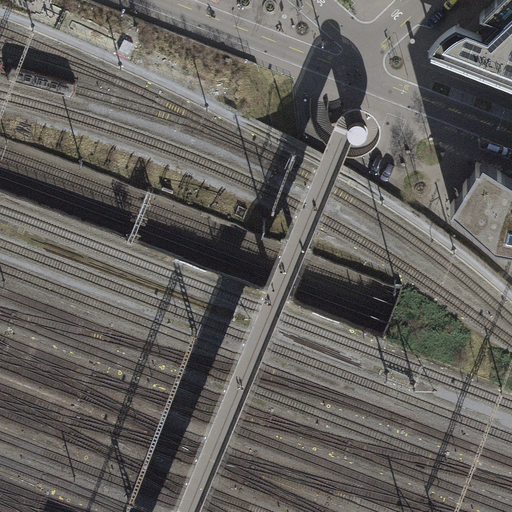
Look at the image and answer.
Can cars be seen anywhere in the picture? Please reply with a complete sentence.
Yes, the picture does show a car.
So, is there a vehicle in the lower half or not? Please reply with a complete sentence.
No, the scene shows no vehicle in the lower half.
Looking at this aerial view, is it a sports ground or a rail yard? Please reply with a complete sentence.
What you see here is a rail yard.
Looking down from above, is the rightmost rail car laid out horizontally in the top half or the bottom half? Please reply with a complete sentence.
It is in the top half that the rightmost rail car laid out horizontally appears.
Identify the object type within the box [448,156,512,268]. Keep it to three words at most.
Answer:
building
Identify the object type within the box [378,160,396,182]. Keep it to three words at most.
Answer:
car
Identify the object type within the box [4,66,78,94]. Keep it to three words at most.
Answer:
rail car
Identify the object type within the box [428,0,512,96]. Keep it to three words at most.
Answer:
building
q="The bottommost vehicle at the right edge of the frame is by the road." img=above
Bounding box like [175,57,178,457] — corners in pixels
[486,142,510,156]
